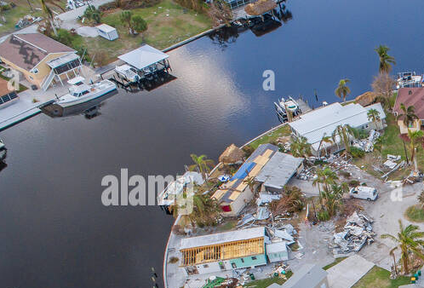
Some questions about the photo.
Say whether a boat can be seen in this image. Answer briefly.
Yes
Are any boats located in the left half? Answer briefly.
Yes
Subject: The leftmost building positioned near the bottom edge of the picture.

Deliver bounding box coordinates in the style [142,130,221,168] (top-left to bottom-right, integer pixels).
[180,226,268,278]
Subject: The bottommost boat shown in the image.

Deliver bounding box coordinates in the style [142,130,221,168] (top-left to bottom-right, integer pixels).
[157,169,196,205]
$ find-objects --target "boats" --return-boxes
[115,64,143,83]
[280,95,303,119]
[157,169,196,205]
[52,76,118,105]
